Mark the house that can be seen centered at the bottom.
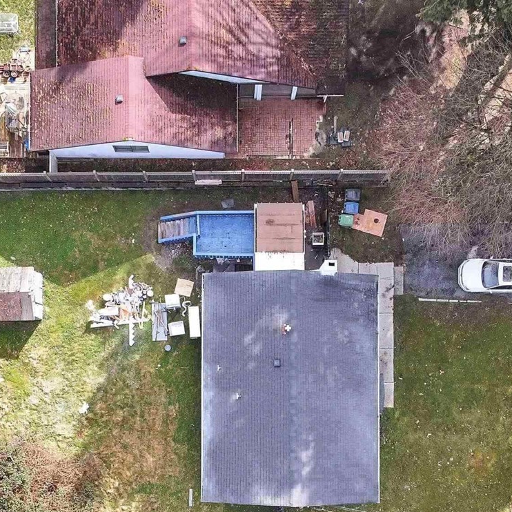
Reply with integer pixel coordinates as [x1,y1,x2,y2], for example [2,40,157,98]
[198,258,382,509]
